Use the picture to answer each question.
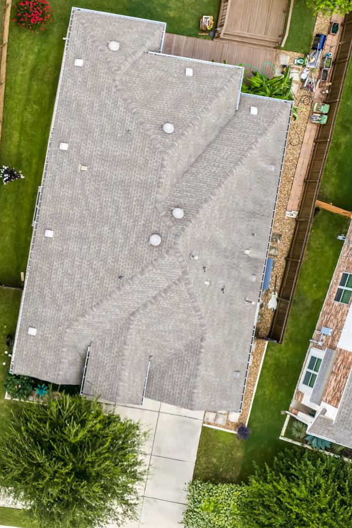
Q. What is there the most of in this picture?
buildings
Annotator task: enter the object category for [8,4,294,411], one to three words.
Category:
house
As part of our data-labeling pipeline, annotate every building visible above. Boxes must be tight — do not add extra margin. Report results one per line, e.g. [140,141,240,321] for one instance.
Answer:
[288,217,352,451]
[8,4,294,411]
